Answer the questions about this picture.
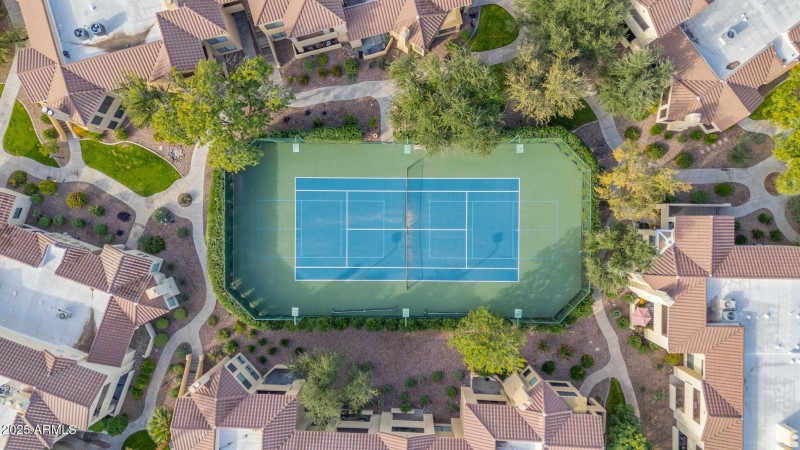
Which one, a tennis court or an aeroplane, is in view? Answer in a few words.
tennis court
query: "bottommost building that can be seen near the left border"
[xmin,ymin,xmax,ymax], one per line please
[0,190,194,450]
